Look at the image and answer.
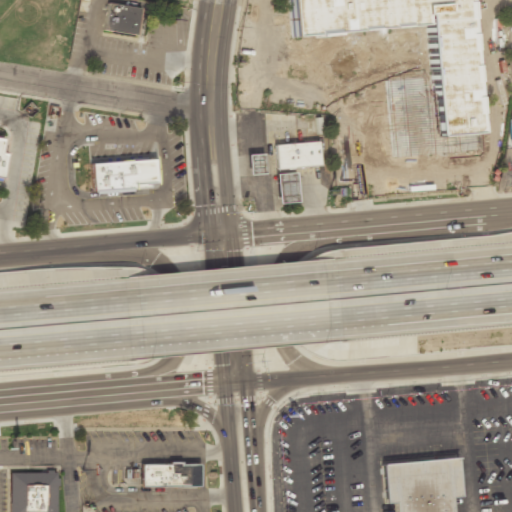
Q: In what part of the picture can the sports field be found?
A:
top left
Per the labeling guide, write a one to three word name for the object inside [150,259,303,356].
overpass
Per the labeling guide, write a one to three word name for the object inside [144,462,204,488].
building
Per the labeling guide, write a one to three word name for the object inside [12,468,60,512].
building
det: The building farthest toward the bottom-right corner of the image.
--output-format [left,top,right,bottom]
[386,458,466,512]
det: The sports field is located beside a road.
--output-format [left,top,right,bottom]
[0,0,80,70]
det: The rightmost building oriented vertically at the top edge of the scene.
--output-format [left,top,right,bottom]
[427,0,491,138]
